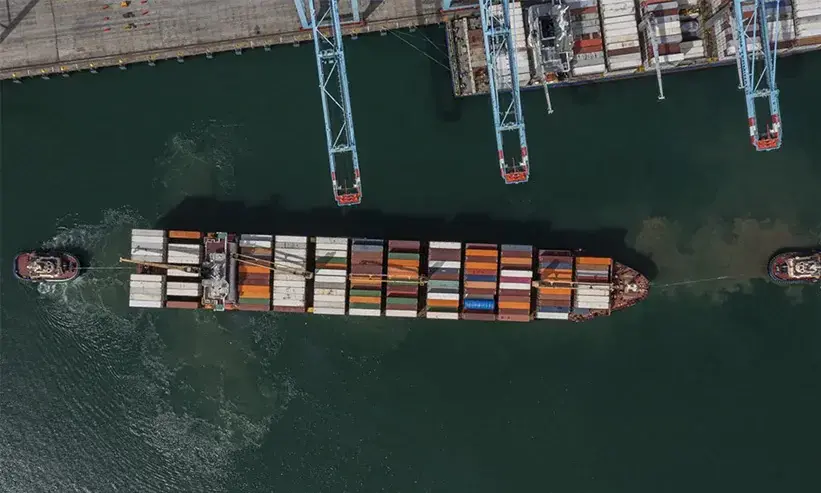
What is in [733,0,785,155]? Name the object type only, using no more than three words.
container crane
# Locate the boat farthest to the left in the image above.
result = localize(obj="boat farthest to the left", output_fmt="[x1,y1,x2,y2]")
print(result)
[11,251,83,282]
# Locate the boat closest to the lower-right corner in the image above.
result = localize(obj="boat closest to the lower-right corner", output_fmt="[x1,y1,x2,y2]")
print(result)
[766,251,821,283]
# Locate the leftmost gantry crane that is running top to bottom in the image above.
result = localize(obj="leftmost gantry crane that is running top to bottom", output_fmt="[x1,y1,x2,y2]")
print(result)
[292,0,368,208]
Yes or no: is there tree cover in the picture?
No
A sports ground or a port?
port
